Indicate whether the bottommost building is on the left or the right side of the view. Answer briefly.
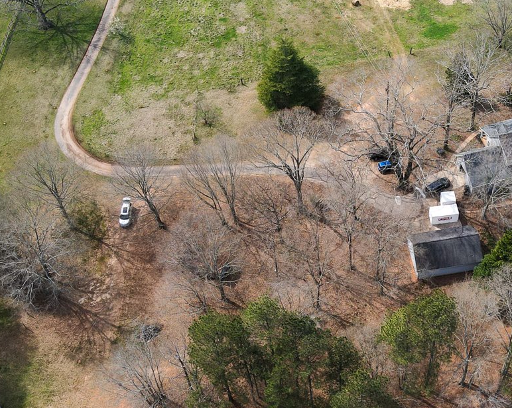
right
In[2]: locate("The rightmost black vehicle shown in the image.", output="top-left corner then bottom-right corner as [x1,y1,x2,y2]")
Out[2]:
[425,177,453,195]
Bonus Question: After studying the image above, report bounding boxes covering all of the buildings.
[409,229,481,278]
[454,120,512,195]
